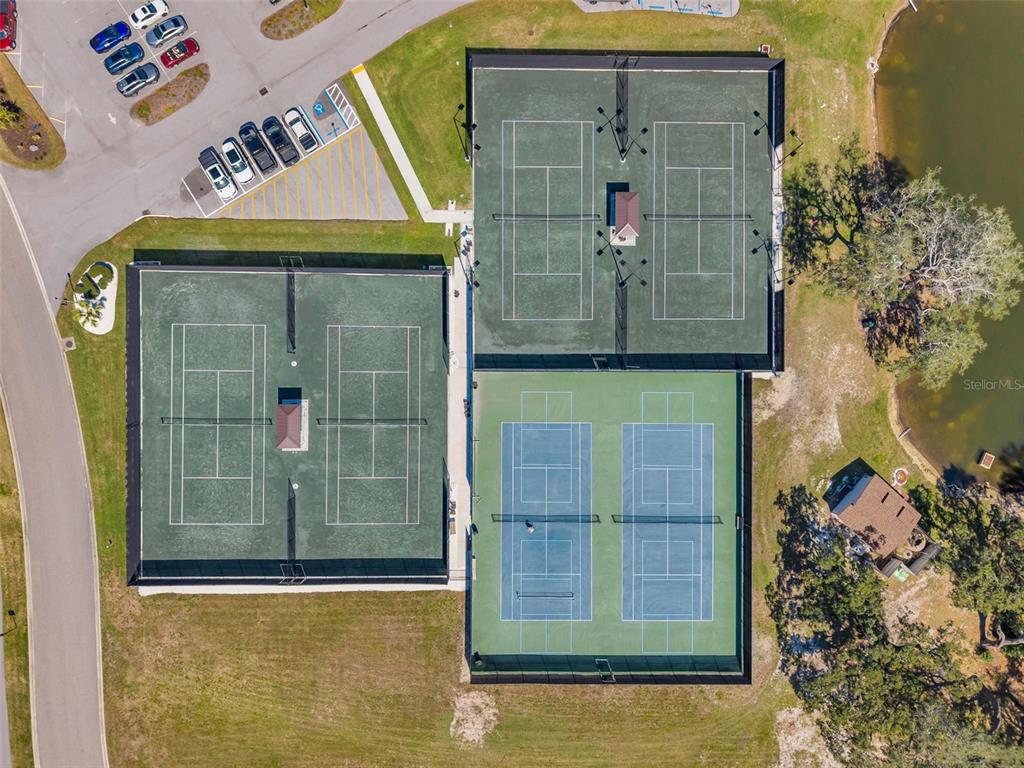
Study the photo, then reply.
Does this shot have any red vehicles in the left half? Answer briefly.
Yes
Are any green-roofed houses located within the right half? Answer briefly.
No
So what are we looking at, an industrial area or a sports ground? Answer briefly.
sports ground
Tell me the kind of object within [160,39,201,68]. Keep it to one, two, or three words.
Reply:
car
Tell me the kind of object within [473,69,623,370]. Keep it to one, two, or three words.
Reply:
tennis court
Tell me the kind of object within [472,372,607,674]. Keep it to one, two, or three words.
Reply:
tennis court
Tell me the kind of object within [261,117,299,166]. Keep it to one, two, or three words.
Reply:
truck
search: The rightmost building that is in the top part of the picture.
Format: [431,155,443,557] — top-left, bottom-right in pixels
[610,192,640,246]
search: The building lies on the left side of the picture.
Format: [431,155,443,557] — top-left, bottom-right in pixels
[277,399,308,451]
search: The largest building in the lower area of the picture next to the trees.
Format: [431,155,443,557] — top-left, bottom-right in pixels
[833,474,921,557]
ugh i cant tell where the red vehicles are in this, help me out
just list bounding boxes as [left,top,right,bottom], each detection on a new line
[0,0,18,49]
[160,39,201,68]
